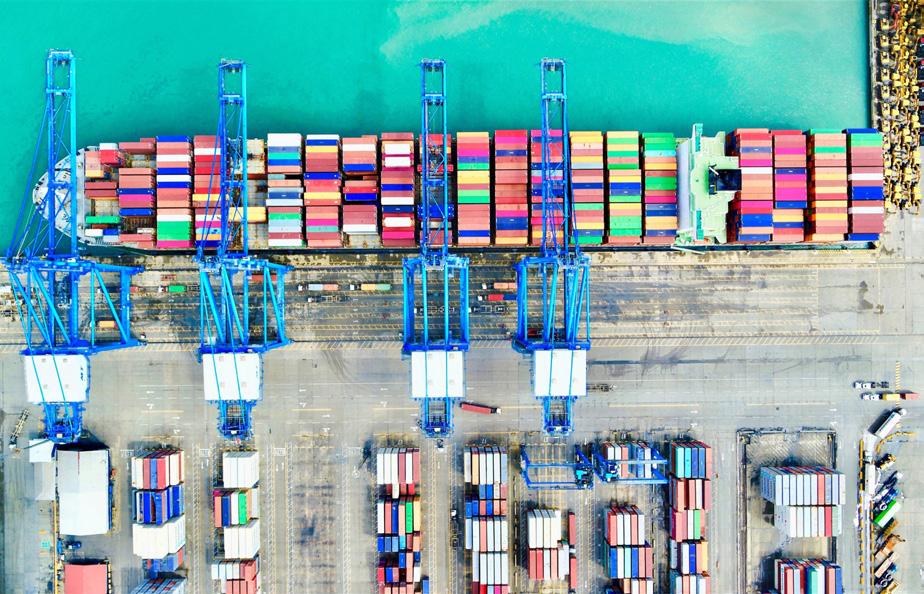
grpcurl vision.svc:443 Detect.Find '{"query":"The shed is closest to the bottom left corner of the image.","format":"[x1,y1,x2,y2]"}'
[63,561,112,594]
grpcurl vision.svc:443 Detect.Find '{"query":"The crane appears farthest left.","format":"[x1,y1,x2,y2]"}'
[1,51,143,442]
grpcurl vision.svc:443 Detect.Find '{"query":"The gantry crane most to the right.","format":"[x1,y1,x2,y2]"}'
[596,442,670,487]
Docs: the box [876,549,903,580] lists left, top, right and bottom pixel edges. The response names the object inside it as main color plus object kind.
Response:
white truck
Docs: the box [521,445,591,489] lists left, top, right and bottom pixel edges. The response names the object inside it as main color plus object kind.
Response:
blue container crane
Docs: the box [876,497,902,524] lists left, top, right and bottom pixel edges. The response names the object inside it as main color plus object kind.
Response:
white truck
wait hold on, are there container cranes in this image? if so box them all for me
[521,445,591,489]
[194,61,294,441]
[596,442,670,487]
[401,60,471,439]
[510,59,592,437]
[1,51,143,442]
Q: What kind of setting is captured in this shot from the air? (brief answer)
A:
port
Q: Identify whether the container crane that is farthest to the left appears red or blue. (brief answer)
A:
blue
